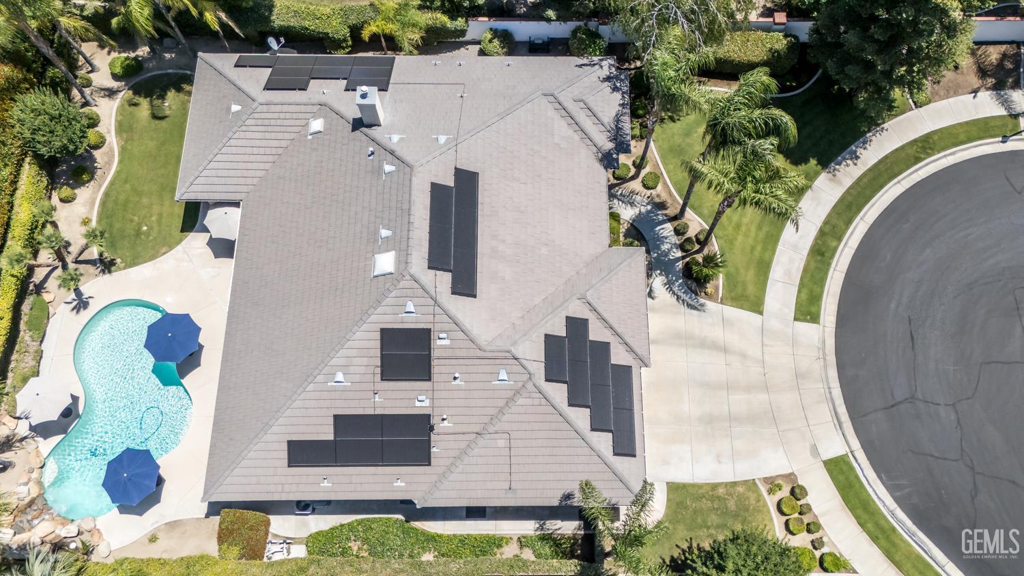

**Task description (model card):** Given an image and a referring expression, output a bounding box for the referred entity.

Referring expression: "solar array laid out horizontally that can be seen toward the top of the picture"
[234,55,395,92]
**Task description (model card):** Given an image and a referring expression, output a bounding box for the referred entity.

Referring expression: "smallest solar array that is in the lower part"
[380,328,431,381]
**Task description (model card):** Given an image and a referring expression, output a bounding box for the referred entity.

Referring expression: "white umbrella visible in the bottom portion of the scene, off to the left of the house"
[13,369,71,424]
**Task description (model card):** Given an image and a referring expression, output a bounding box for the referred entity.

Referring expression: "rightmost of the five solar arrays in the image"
[544,316,636,457]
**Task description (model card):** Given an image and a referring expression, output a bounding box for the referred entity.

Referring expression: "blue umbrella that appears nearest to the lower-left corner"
[101,447,157,506]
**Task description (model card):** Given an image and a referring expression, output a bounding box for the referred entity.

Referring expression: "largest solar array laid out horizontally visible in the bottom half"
[287,414,431,467]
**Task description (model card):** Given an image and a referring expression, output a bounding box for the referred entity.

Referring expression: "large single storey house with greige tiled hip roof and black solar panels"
[173,54,652,508]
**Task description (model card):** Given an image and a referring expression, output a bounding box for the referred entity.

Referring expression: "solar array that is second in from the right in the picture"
[428,168,479,297]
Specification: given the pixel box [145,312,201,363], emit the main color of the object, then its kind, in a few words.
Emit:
blue umbrella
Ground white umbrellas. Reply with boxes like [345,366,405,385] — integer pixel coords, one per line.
[13,369,71,424]
[204,202,238,239]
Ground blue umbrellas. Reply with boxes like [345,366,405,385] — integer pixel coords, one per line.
[101,447,157,506]
[145,312,201,363]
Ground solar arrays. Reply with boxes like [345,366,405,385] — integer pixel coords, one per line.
[428,168,479,297]
[287,414,431,467]
[544,316,636,457]
[234,55,395,92]
[380,328,431,381]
